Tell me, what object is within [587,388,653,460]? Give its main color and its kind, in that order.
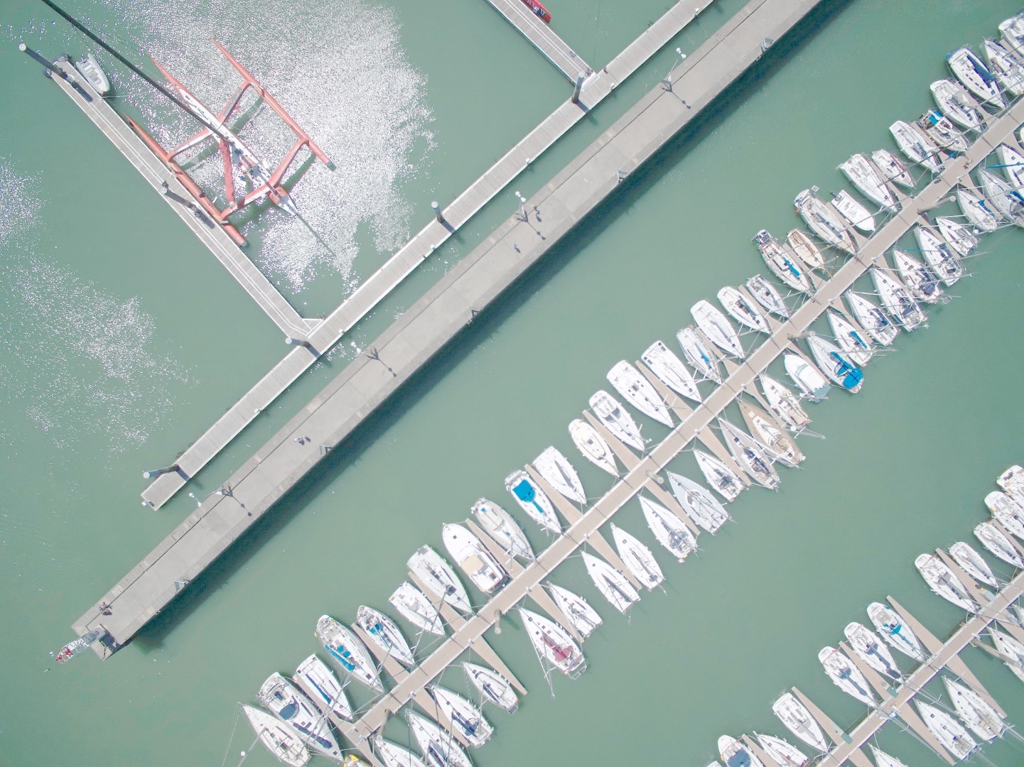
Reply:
white boat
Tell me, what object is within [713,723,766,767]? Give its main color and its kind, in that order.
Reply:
white boat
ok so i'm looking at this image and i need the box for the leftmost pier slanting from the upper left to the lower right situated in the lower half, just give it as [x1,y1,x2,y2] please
[293,674,350,734]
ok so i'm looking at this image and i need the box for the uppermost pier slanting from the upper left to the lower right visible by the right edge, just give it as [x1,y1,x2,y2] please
[953,82,1001,130]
